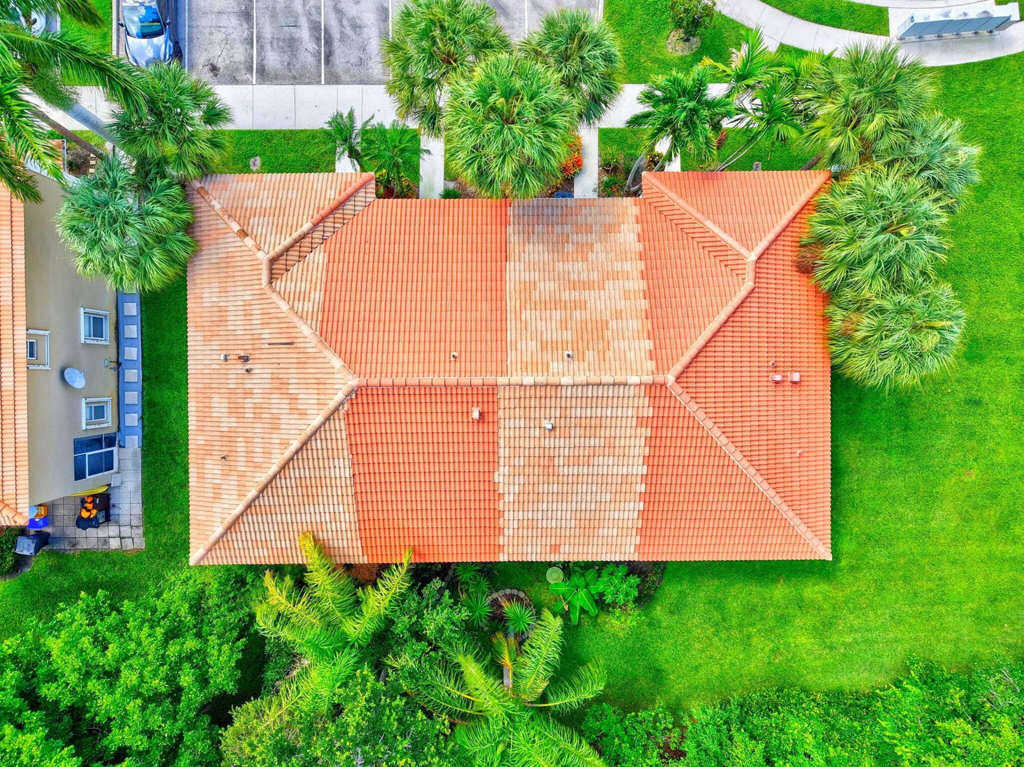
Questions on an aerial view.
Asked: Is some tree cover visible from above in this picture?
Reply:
Yes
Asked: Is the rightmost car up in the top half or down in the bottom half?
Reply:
top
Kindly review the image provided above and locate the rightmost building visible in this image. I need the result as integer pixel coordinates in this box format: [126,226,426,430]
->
[186,169,834,566]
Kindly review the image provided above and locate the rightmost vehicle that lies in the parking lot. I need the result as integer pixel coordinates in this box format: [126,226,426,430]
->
[115,0,179,67]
